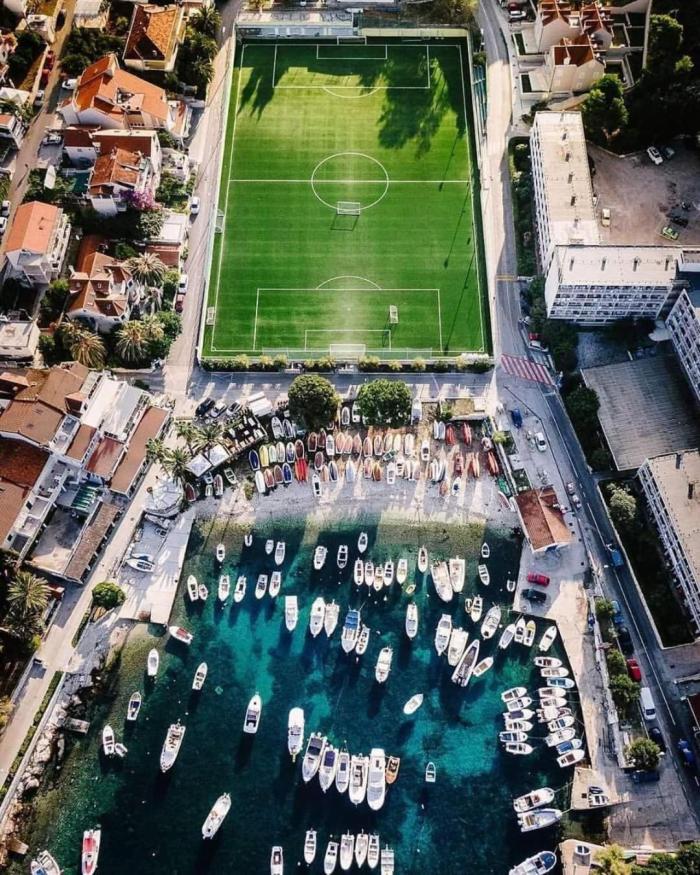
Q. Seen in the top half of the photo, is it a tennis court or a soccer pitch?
soccer pitch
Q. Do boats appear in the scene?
Yes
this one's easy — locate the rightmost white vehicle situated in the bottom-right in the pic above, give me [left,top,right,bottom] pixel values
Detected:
[640,685,659,719]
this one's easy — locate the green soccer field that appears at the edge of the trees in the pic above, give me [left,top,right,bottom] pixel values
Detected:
[202,41,493,355]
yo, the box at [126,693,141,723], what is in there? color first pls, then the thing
white boat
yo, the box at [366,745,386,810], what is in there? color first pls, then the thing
white boat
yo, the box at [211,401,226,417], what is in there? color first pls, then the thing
white car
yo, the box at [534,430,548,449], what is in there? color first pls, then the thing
white vehicle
